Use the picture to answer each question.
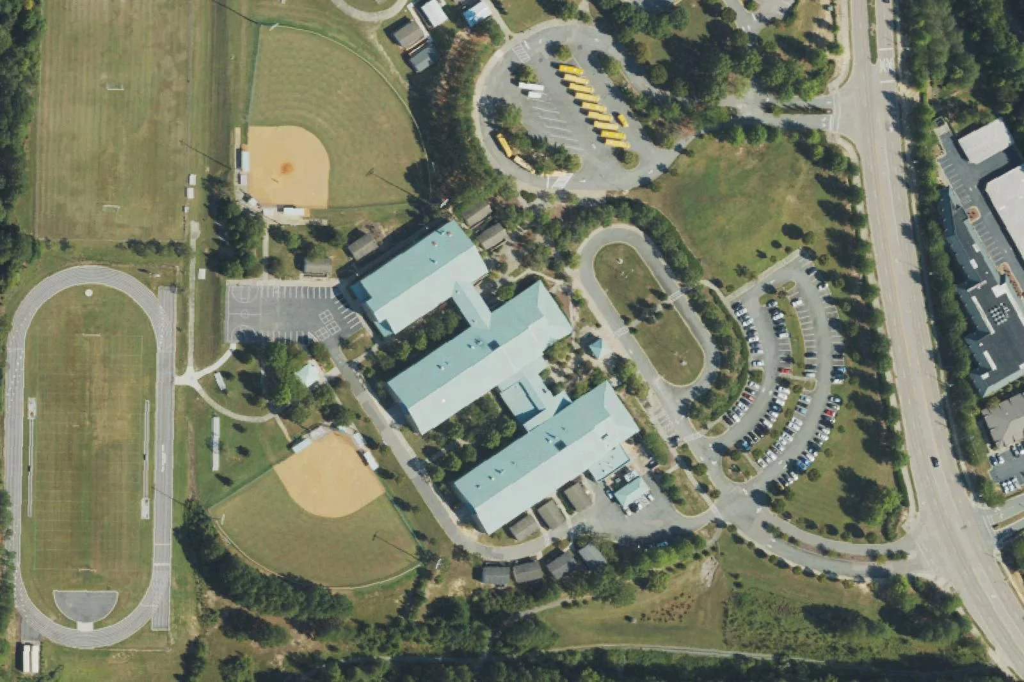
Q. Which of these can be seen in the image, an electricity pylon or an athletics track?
athletics track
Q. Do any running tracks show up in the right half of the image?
No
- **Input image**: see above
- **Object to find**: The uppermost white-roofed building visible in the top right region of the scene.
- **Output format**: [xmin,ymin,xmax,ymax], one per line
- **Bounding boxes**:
[951,118,1011,164]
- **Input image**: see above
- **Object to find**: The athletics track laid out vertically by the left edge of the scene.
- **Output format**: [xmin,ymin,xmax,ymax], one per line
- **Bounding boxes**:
[4,266,158,647]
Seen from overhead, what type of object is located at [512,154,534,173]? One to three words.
vehicle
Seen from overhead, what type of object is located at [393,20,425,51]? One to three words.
building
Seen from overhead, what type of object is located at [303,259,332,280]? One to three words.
building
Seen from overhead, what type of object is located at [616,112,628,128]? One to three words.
vehicle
